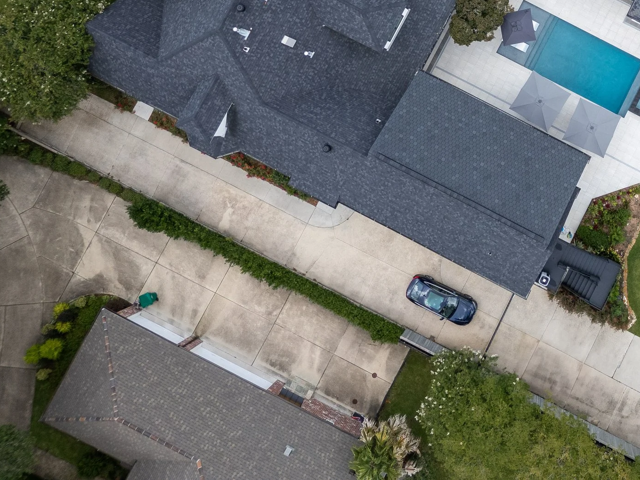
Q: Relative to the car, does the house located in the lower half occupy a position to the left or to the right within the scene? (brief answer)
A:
left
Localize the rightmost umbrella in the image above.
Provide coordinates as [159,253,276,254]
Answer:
[564,99,622,157]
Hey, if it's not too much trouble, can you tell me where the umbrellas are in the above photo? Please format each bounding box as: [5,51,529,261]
[503,9,537,47]
[510,71,570,133]
[564,99,622,157]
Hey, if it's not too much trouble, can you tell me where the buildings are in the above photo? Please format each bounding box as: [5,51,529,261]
[39,305,365,480]
[86,0,640,299]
